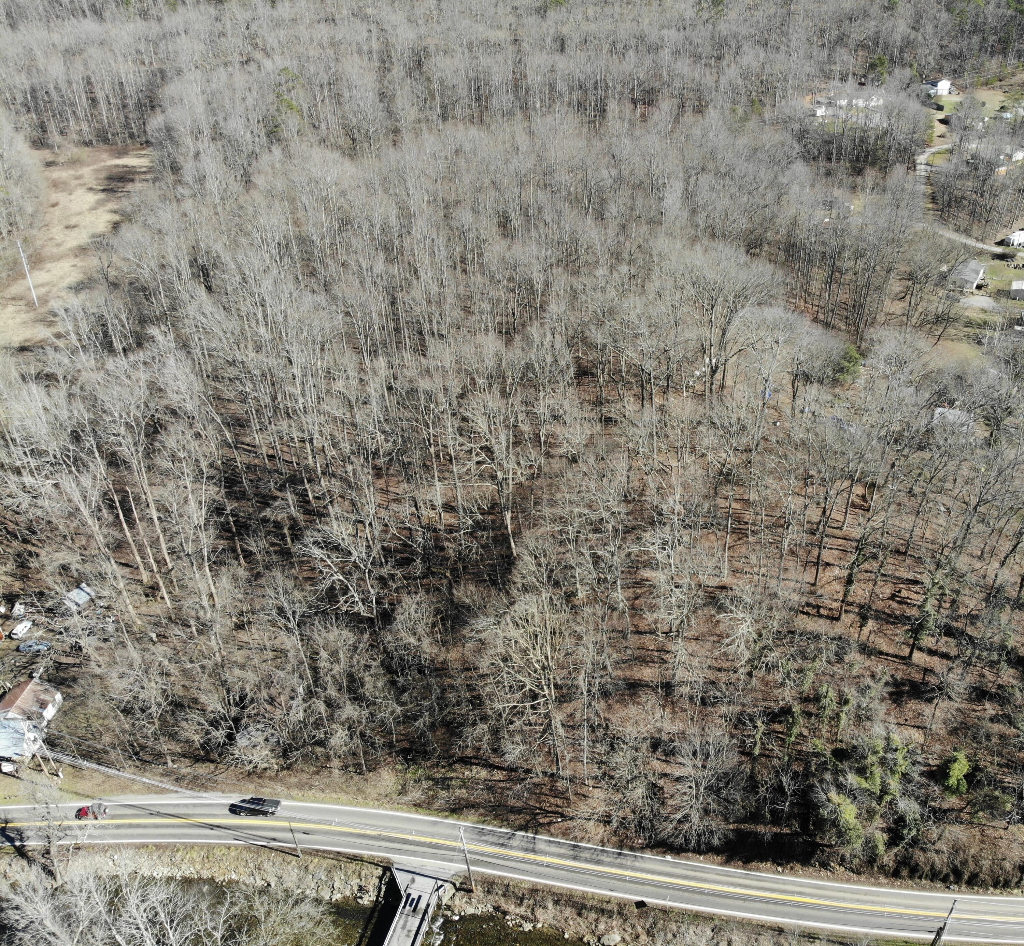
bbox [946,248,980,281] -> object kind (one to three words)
house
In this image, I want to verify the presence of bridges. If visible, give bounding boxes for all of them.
[383,863,452,946]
